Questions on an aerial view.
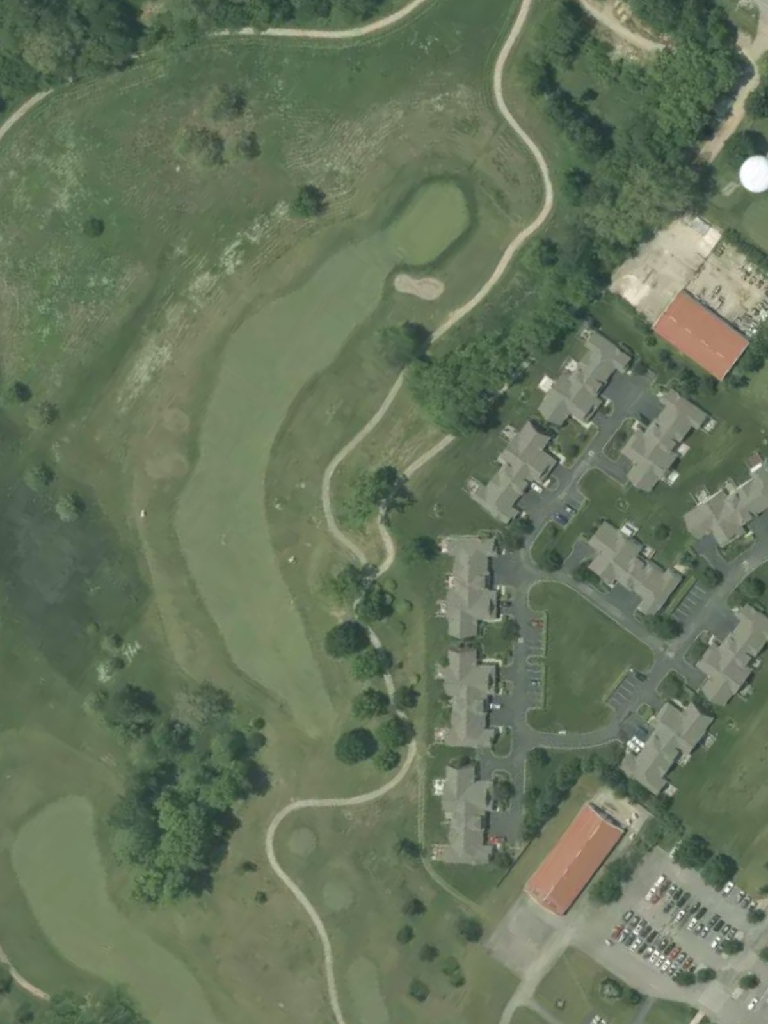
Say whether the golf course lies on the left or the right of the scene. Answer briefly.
left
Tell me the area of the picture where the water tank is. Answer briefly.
top right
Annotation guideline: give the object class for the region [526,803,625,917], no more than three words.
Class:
barn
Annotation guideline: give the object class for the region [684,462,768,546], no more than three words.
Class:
house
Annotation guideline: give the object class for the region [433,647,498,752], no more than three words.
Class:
house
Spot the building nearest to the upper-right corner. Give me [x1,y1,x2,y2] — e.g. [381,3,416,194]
[654,289,751,380]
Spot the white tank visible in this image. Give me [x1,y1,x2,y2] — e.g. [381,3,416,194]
[734,147,768,190]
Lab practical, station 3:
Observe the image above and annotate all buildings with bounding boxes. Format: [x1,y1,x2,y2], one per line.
[684,462,768,546]
[430,762,496,868]
[621,387,717,495]
[535,326,636,427]
[586,518,688,617]
[433,647,498,752]
[620,698,719,799]
[435,537,500,642]
[463,416,558,524]
[654,289,751,380]
[698,599,768,707]
[526,803,625,917]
